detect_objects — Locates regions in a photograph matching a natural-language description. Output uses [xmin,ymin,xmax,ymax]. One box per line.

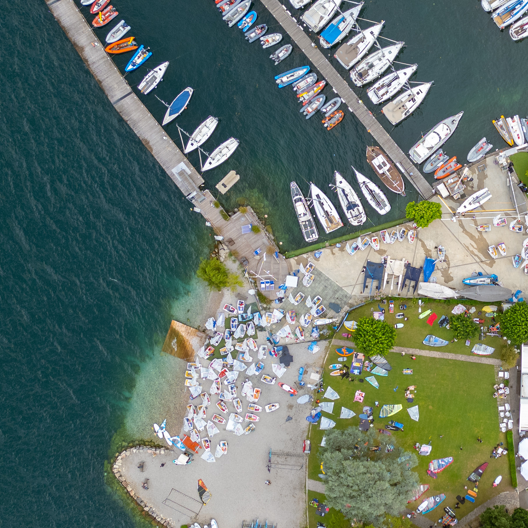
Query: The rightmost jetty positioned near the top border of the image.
[261,0,435,198]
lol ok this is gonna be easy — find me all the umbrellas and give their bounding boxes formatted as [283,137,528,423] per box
[518,437,528,459]
[519,459,528,481]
